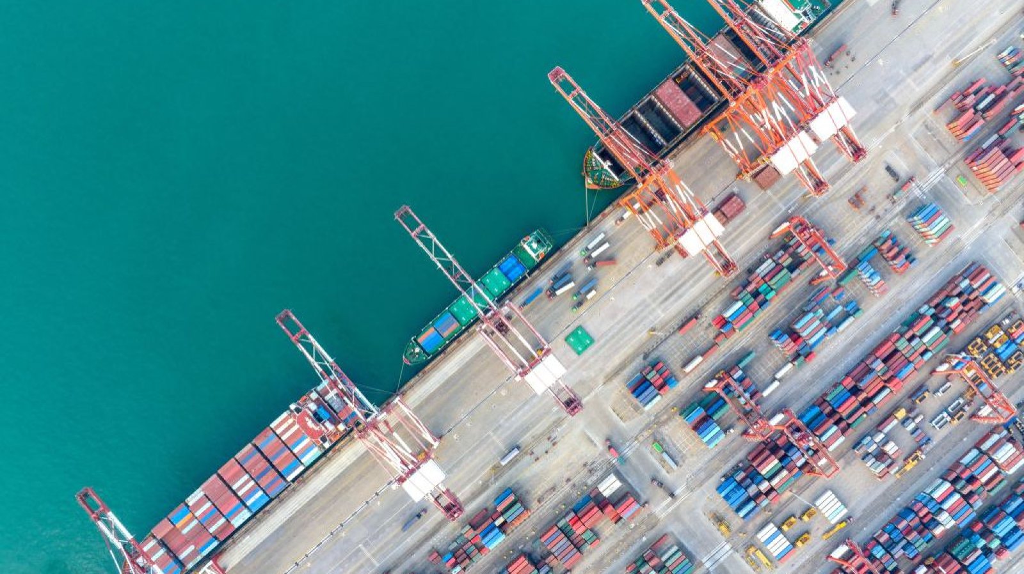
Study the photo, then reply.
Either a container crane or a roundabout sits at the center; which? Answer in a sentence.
What appears at the center is a container crane.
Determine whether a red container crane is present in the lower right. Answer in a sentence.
Yes, a red container crane appears in the lower right.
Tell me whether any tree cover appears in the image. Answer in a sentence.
No, there's no tree cover in this view.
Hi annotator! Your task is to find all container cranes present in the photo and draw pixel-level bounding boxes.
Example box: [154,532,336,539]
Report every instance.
[276,310,464,521]
[642,0,830,200]
[75,486,167,574]
[707,0,868,167]
[395,206,583,417]
[764,413,839,479]
[551,68,739,280]
[930,359,1015,423]
[769,217,846,287]
[700,376,773,440]
[827,542,881,574]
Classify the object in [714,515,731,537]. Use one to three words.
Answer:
work vehicle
